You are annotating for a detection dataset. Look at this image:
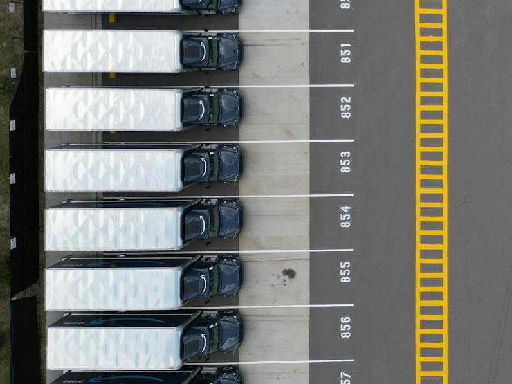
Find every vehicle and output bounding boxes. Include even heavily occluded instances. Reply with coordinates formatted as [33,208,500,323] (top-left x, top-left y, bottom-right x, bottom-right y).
[42,28,244,74]
[45,309,246,369]
[48,364,246,384]
[45,85,246,131]
[45,143,246,191]
[44,253,245,310]
[42,0,244,16]
[44,199,245,251]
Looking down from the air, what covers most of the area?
paved ground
